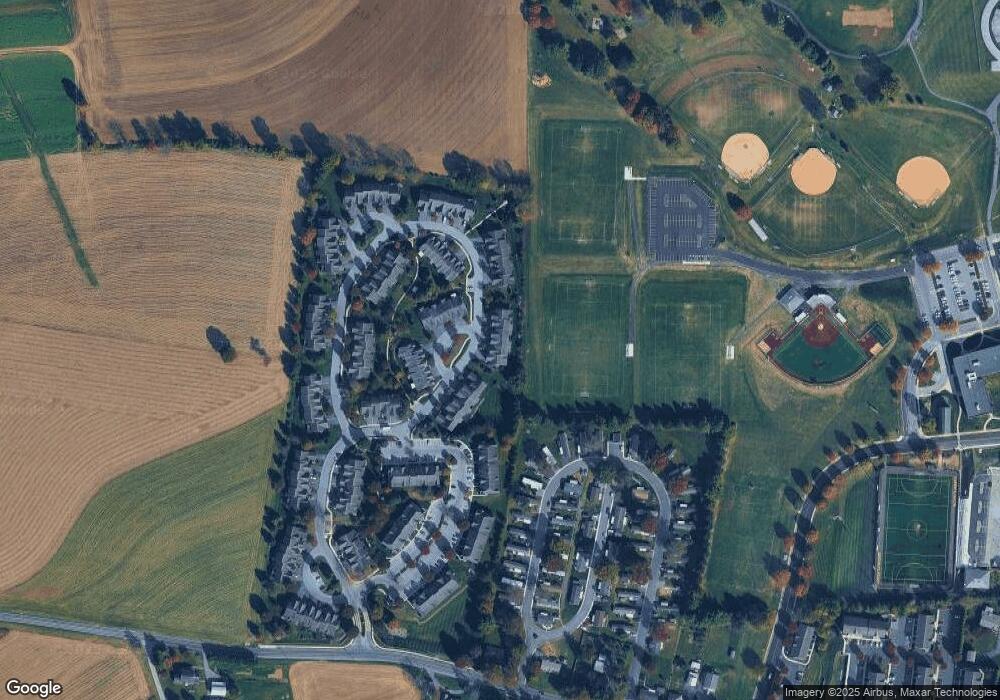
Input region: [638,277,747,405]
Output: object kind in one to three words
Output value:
soccer field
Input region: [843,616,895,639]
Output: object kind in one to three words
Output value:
building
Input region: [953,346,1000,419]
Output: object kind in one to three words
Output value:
building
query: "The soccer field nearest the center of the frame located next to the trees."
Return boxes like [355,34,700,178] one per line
[542,275,632,406]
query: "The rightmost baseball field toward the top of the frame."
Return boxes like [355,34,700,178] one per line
[841,130,984,212]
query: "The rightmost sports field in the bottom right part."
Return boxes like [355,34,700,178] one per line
[874,469,961,589]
